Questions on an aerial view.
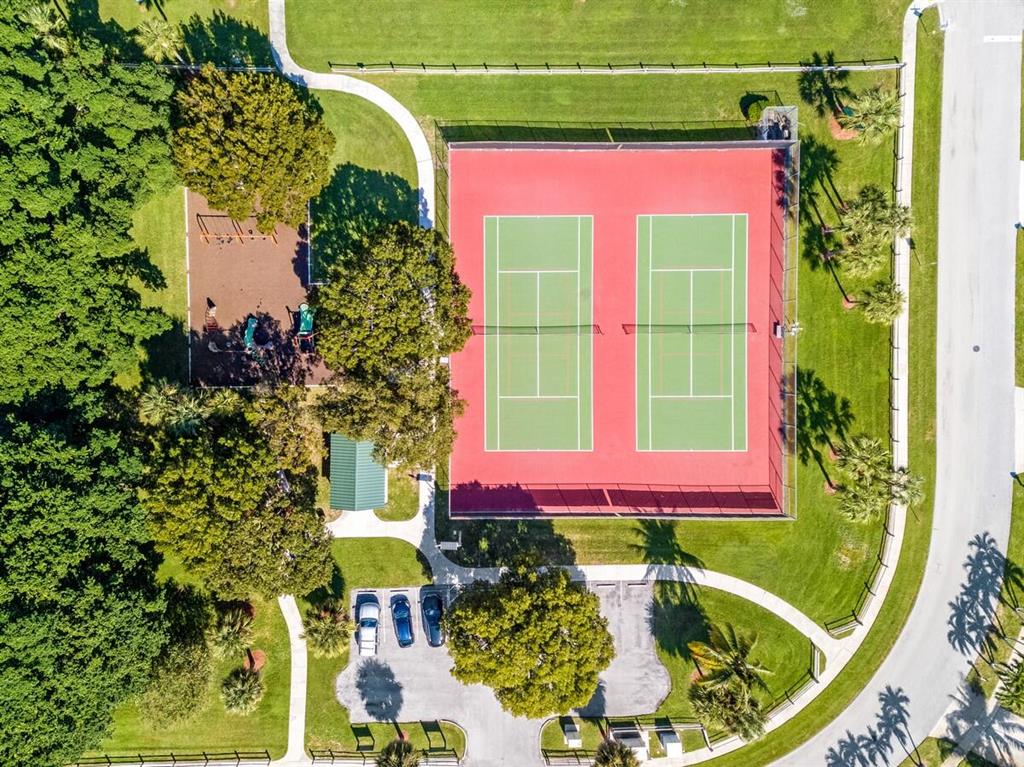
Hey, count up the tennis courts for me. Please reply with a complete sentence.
In total, 2 tennis courts can be seen.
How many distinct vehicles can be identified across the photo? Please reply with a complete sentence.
My tally gives 3 vehicles in this view.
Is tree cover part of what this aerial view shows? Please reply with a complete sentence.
Yes, there's tree cover in this view.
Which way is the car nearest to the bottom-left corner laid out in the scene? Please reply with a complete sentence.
The car nearest to the bottom-left corner has been laid out from top to bottom relative to the frame.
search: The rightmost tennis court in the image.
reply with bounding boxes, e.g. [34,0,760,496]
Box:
[636,214,748,452]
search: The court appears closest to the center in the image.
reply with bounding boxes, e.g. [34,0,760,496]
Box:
[485,215,593,451]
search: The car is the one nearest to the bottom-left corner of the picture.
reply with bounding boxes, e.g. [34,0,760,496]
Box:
[355,604,379,657]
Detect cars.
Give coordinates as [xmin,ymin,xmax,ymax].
[421,597,443,645]
[355,604,379,657]
[390,598,413,647]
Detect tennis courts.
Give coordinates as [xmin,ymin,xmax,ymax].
[636,214,748,452]
[485,215,593,451]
